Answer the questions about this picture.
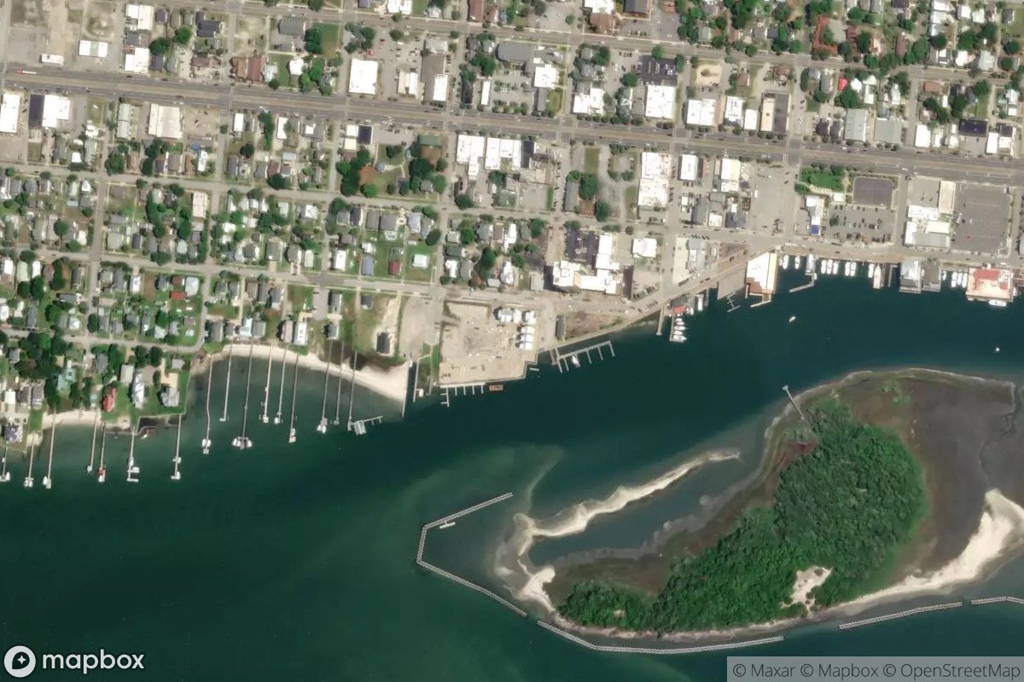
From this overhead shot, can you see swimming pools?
No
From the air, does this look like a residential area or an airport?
residential area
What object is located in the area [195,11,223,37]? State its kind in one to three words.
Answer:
house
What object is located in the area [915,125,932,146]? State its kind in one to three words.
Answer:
building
